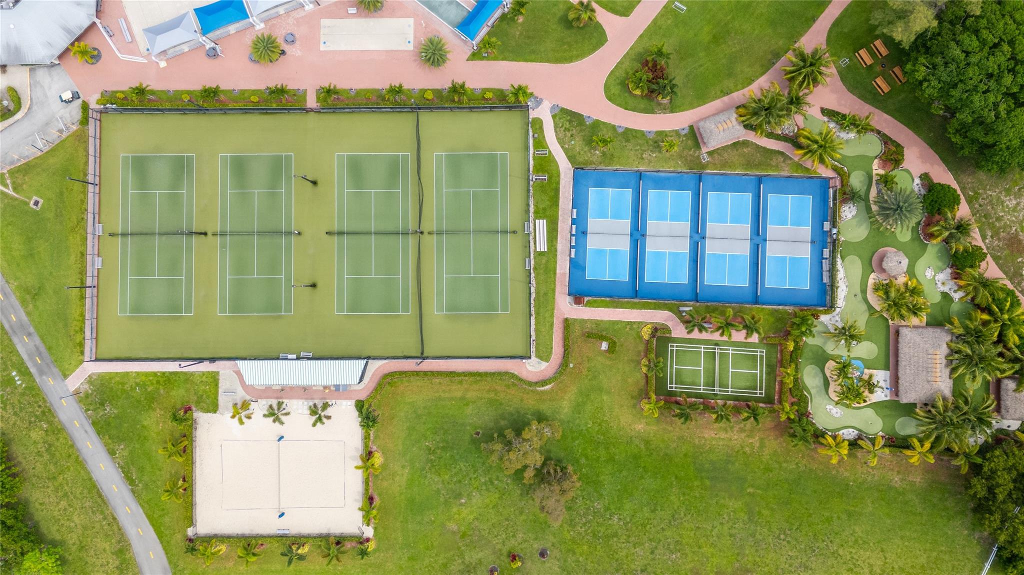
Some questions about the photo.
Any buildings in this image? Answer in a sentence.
Yes, there's a building here.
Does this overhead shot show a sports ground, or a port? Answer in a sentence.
The area seen from above is a sports ground.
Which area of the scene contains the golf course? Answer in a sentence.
The golf course is in the right part of the image.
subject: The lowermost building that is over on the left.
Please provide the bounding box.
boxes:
[235,359,369,385]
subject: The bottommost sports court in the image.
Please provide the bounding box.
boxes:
[221,440,345,510]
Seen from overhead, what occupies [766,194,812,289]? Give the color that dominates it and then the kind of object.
blue sports court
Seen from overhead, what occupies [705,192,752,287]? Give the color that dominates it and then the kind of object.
blue sports court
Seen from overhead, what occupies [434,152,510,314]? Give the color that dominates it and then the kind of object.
green tennis court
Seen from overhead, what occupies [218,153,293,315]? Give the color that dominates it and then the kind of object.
green tennis court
